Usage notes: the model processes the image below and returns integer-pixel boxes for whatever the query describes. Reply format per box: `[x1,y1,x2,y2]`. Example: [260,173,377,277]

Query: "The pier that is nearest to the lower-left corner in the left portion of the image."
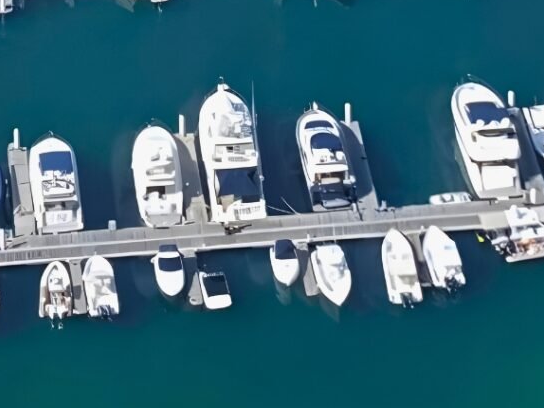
[70,261,86,316]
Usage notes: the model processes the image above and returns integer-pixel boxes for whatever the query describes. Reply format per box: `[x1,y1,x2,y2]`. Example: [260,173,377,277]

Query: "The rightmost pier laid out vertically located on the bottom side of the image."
[408,232,431,287]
